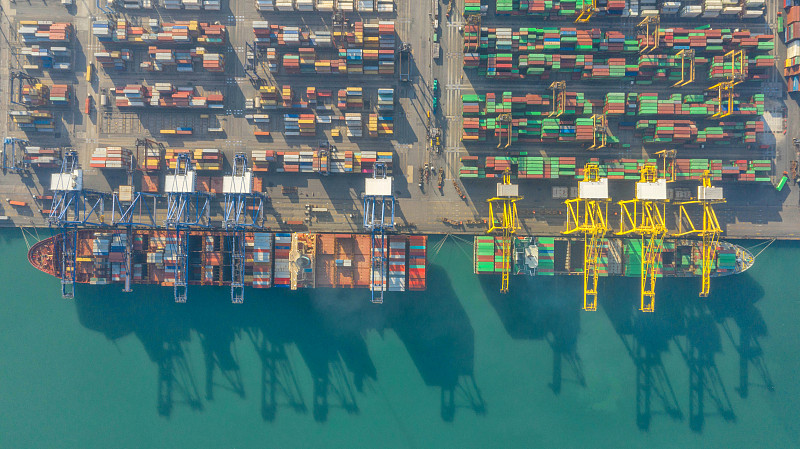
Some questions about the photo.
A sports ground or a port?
port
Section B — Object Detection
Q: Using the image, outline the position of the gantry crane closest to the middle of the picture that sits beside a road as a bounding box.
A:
[362,160,399,304]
